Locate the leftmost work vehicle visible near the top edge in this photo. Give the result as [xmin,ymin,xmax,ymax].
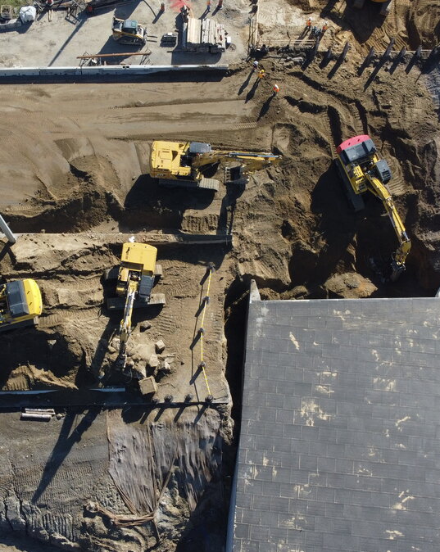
[108,16,169,52]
